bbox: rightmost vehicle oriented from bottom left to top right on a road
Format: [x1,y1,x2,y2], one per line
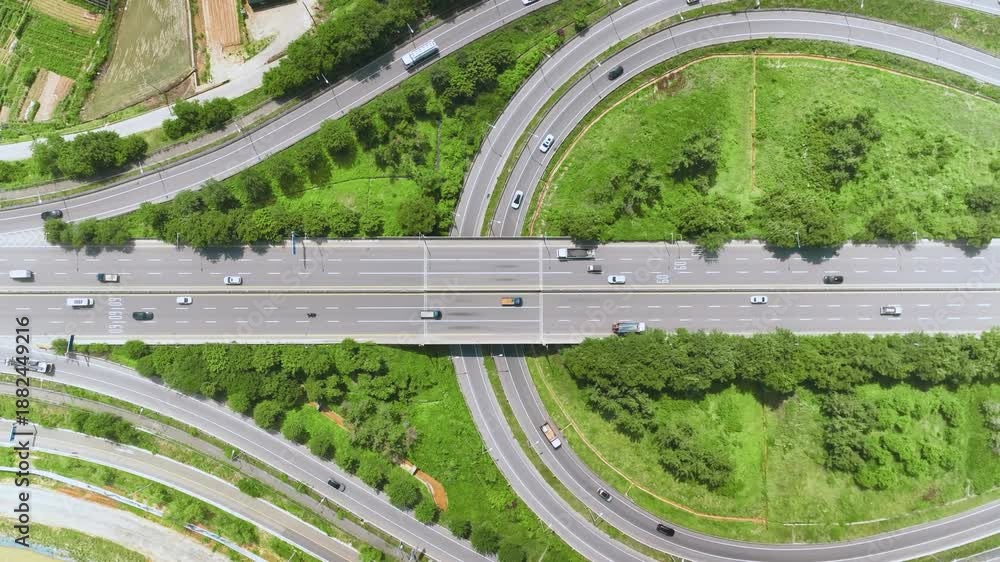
[607,65,624,79]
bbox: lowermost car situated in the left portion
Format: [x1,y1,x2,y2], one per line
[327,479,344,492]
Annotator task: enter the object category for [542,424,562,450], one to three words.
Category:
vehicle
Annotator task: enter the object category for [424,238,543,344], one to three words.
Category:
overpass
